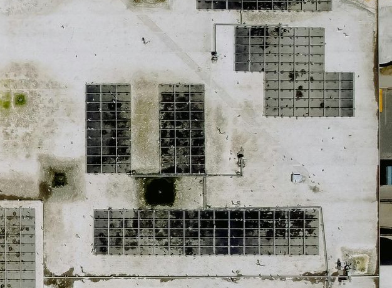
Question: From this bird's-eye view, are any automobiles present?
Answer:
No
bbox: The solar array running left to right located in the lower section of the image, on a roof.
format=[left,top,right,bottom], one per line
[93,207,322,255]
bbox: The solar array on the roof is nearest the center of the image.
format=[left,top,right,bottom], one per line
[158,82,205,173]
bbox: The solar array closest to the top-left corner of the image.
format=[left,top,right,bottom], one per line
[86,82,133,173]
